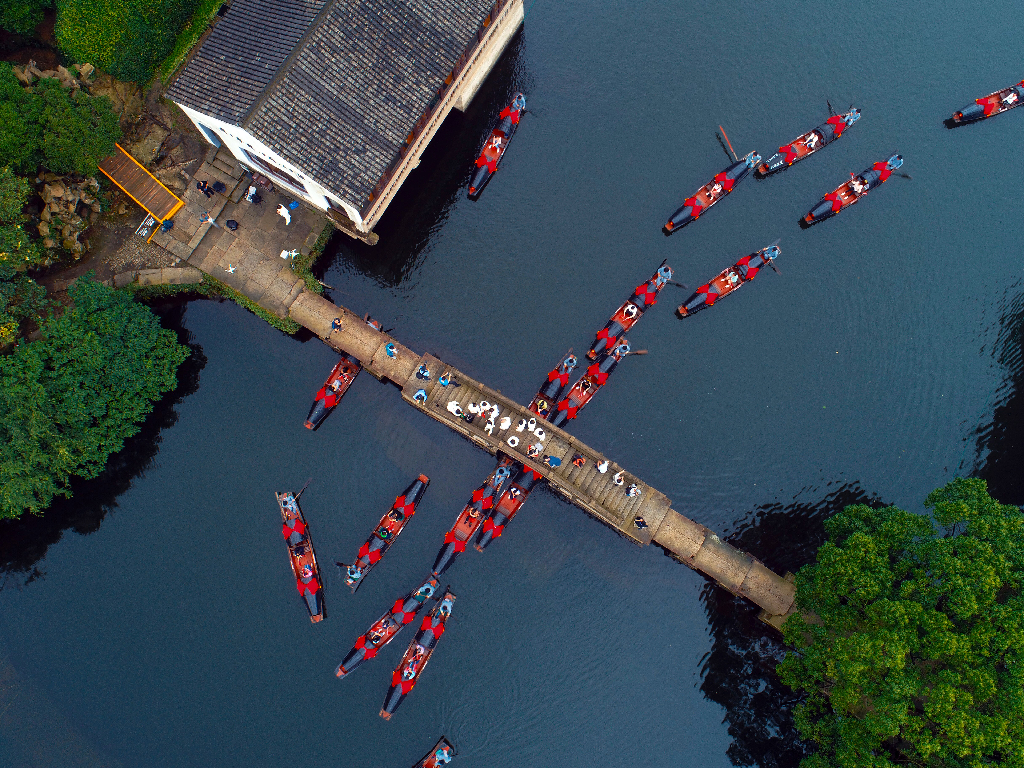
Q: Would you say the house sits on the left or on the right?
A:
left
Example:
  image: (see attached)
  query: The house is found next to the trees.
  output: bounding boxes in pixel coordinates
[163,0,524,265]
